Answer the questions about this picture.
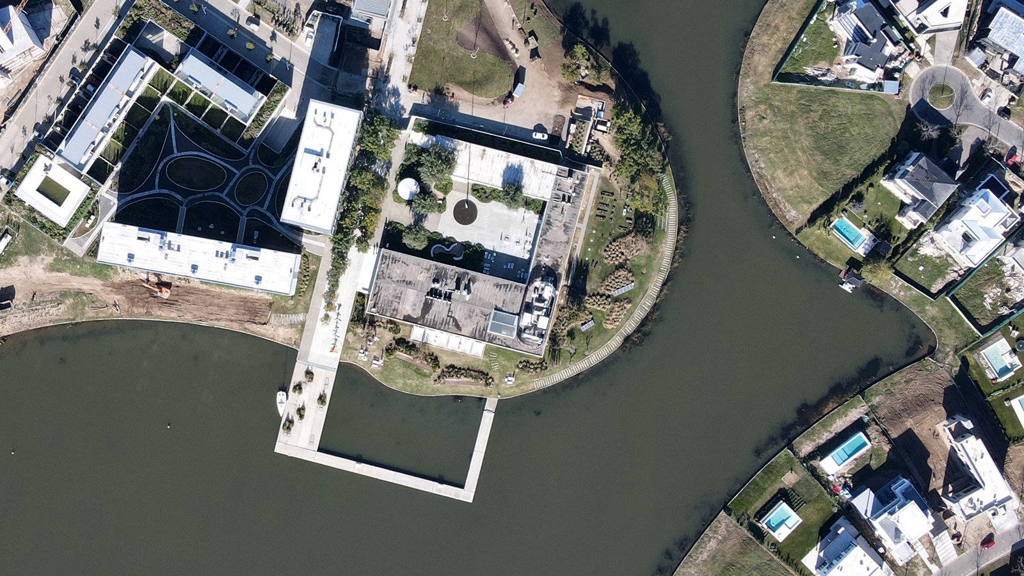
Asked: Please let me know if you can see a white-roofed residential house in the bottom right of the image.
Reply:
Yes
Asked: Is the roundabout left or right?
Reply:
right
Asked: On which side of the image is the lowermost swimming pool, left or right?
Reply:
right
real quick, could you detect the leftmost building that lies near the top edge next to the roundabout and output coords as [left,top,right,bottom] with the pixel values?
[829,0,900,94]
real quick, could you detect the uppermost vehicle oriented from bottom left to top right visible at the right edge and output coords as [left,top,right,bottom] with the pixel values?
[979,91,994,108]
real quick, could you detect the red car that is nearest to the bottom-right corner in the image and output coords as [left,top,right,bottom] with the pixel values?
[980,537,997,549]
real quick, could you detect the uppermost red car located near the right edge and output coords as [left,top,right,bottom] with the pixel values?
[1004,153,1019,167]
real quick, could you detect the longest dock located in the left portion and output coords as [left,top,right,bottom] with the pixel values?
[274,365,494,503]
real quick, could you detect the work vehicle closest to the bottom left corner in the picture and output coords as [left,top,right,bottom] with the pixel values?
[136,279,175,301]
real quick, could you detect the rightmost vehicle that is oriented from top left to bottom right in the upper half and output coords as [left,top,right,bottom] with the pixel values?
[996,107,1013,120]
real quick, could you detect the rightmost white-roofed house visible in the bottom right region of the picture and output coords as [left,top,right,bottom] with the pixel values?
[939,413,1013,521]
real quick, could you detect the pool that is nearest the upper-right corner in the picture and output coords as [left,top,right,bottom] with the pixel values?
[830,216,878,257]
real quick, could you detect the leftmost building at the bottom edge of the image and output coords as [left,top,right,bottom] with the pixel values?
[801,514,897,576]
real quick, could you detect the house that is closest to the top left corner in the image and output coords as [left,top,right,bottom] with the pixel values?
[0,6,46,94]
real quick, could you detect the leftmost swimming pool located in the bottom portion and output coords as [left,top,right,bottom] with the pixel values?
[762,502,802,542]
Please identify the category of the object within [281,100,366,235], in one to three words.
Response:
building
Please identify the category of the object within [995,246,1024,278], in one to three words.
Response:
house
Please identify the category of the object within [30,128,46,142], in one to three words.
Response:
vehicle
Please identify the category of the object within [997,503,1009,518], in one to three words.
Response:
vehicle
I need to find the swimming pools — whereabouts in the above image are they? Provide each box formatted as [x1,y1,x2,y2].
[1010,393,1024,427]
[762,502,802,542]
[819,432,871,475]
[973,332,1022,382]
[830,216,878,257]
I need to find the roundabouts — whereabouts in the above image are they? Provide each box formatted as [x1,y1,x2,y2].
[909,64,1024,153]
